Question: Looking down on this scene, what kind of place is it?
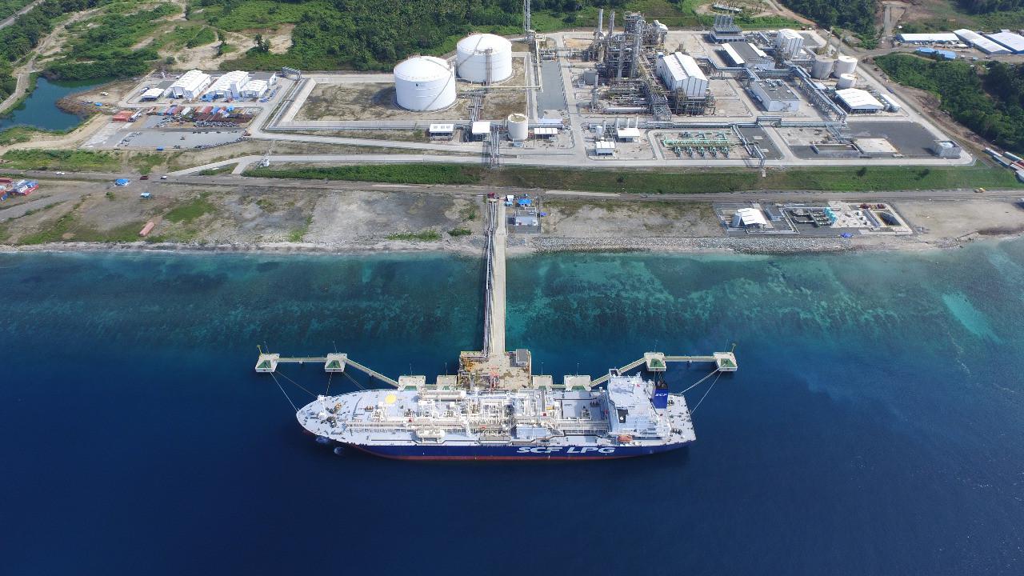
port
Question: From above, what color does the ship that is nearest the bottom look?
white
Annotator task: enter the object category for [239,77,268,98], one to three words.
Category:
building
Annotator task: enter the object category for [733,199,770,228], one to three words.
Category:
shed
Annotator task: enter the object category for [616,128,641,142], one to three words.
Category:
building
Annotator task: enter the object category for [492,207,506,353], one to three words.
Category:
pier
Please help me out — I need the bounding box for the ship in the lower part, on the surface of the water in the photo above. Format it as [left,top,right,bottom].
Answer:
[294,367,695,460]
